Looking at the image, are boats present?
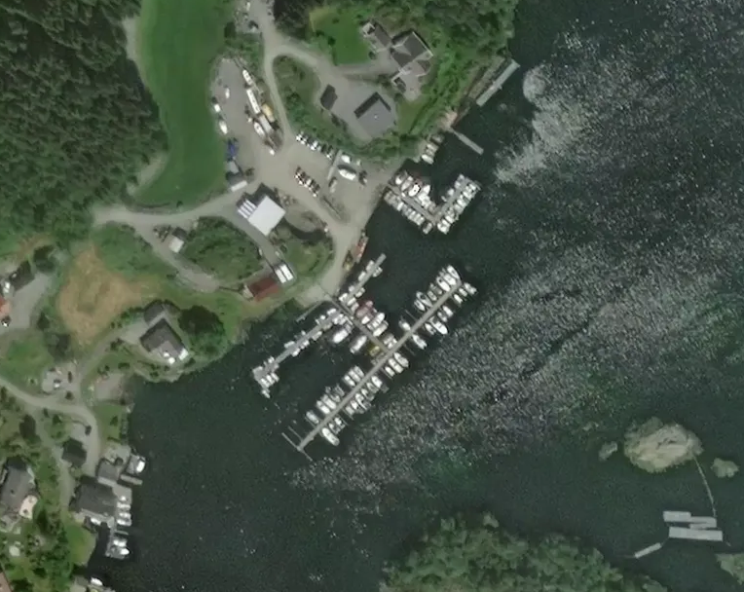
Yes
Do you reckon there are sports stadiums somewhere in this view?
No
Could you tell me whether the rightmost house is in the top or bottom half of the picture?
top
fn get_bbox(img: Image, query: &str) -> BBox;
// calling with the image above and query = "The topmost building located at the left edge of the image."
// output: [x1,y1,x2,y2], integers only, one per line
[8,262,37,290]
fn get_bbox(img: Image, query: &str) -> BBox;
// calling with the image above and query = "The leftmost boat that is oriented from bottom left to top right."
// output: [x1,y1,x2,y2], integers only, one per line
[132,457,146,476]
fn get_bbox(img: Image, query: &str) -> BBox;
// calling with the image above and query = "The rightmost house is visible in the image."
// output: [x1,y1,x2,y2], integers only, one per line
[388,32,437,83]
